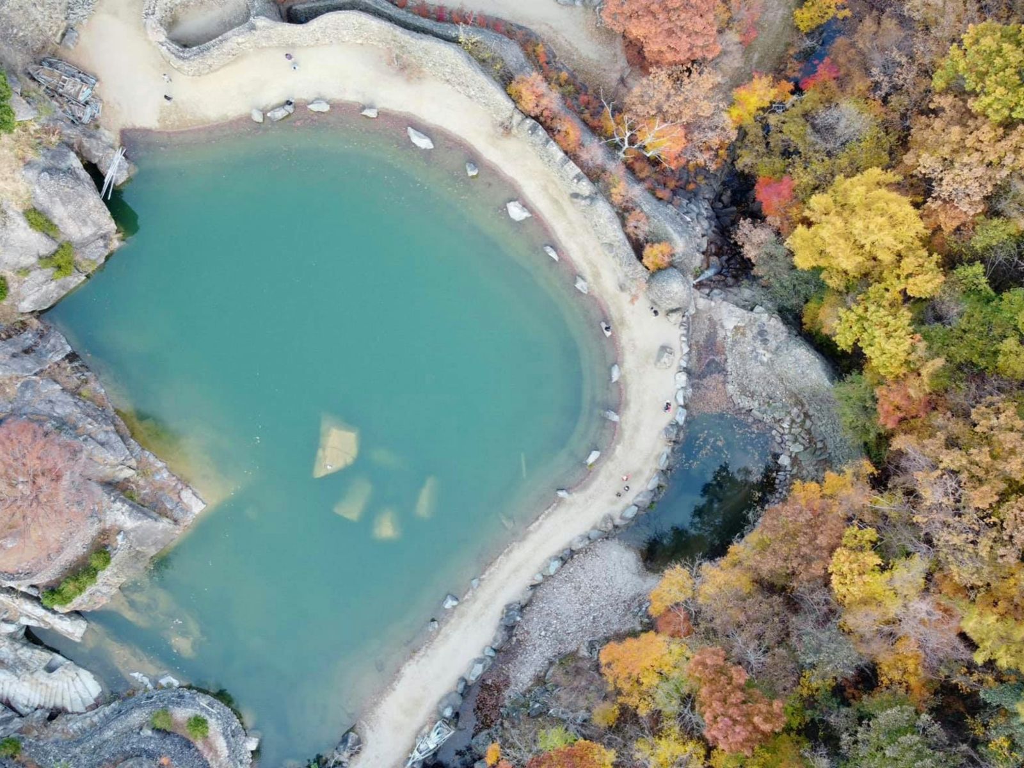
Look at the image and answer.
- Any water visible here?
Yes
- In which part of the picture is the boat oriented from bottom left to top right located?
bottom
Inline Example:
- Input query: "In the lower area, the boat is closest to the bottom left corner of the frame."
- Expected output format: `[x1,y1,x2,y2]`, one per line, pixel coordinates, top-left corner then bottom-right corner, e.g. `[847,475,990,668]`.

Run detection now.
[406,718,454,768]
